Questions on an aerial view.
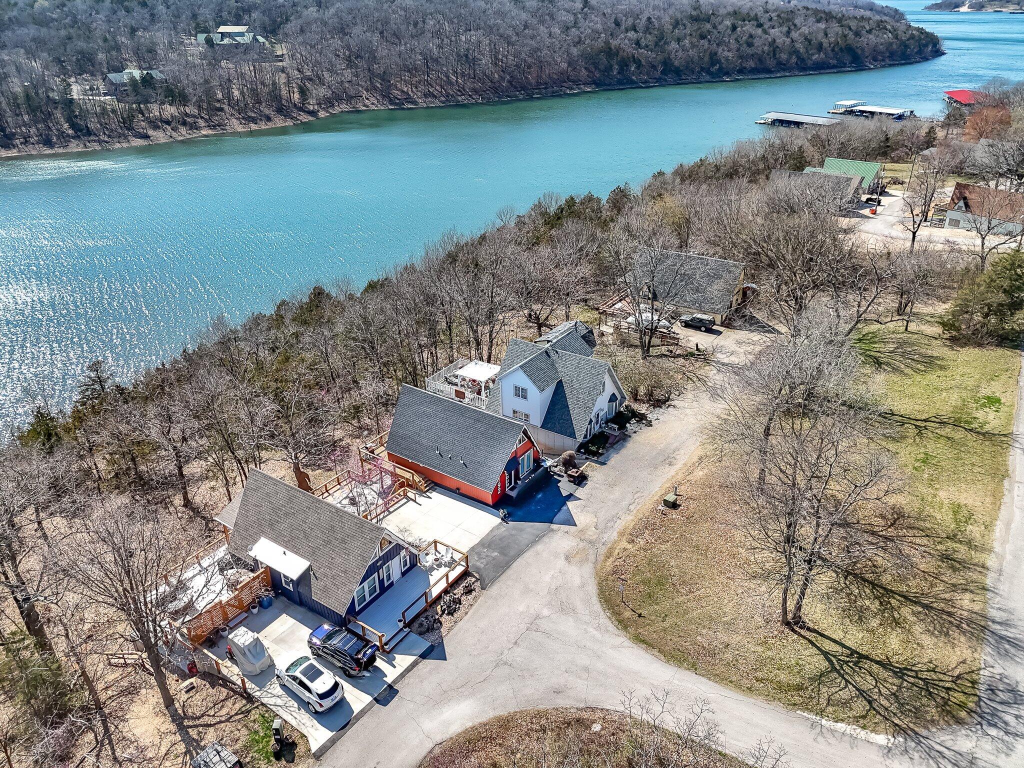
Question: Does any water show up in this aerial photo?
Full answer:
Yes, some water is visible.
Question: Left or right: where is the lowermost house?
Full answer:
The lowermost house sits on the left side.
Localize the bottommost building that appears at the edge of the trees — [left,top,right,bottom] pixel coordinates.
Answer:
[206,466,433,622]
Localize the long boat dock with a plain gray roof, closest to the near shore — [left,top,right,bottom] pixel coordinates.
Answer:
[749,113,830,130]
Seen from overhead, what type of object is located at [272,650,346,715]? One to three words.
car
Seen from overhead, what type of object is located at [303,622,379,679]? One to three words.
car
